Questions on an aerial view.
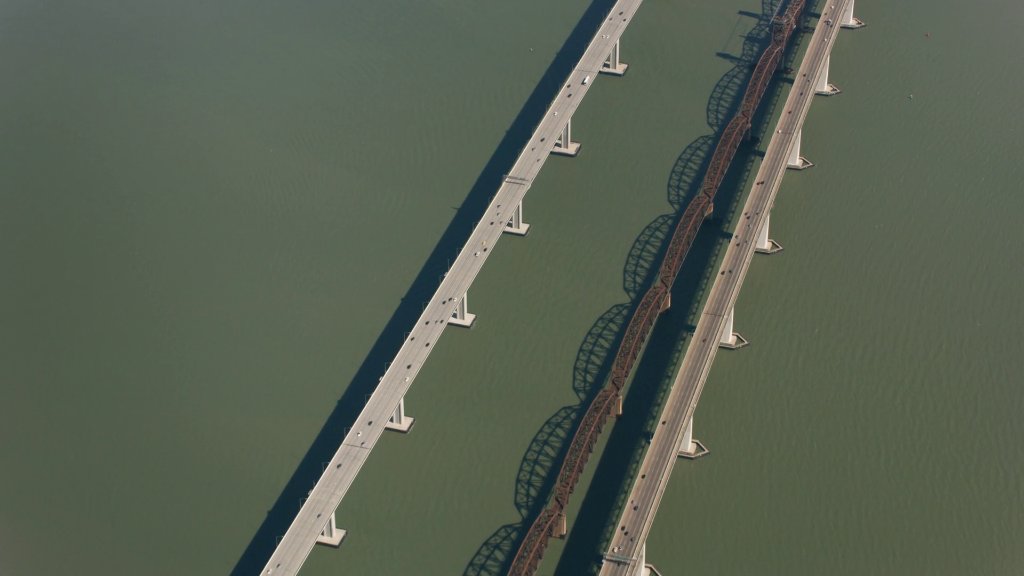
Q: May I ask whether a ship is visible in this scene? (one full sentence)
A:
No, I can't see a single ship in this photo.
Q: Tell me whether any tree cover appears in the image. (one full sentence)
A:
No, no tree cover is visible.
